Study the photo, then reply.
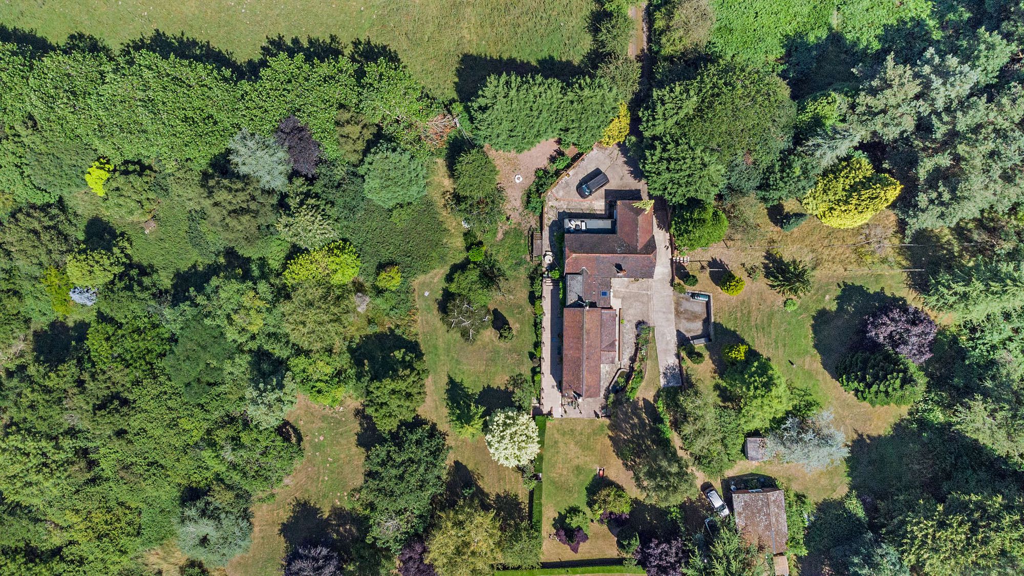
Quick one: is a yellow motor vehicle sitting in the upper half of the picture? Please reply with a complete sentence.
No, the scene shows no yellow motor vehicle in the upper half of the picture.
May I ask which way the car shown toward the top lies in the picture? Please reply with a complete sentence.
From this overhead view, the car shown toward the top appears to run on a diagonal.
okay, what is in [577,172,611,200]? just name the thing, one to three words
car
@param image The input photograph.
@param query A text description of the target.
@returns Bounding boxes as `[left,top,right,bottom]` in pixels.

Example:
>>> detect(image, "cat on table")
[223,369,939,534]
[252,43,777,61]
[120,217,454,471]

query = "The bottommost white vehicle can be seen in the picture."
[702,485,729,517]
